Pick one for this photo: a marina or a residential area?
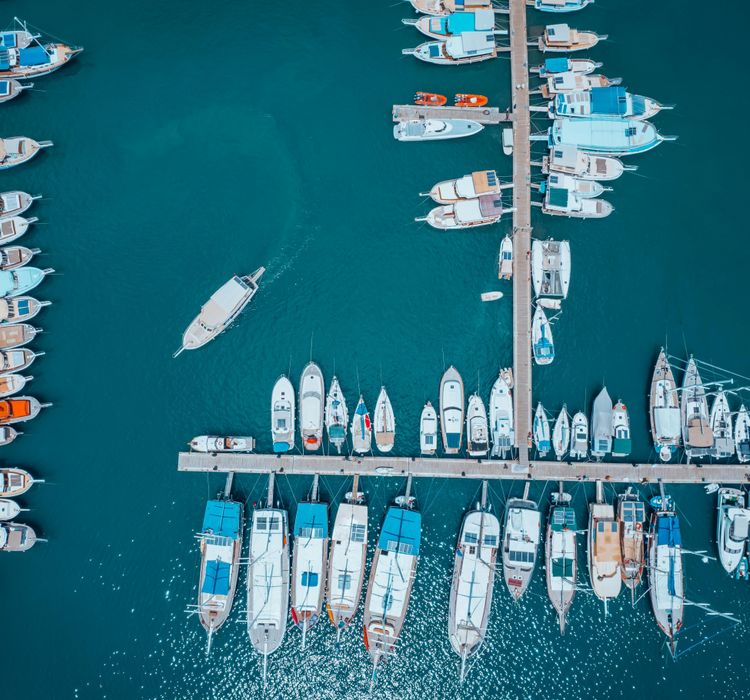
marina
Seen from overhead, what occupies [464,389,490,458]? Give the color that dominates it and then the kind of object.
white boat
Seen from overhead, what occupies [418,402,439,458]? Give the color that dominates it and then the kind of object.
white boat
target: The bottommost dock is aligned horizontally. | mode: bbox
[178,451,750,485]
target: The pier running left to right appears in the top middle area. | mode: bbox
[393,105,499,124]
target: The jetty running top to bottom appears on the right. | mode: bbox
[509,0,531,447]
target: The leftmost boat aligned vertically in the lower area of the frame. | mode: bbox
[177,472,250,654]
